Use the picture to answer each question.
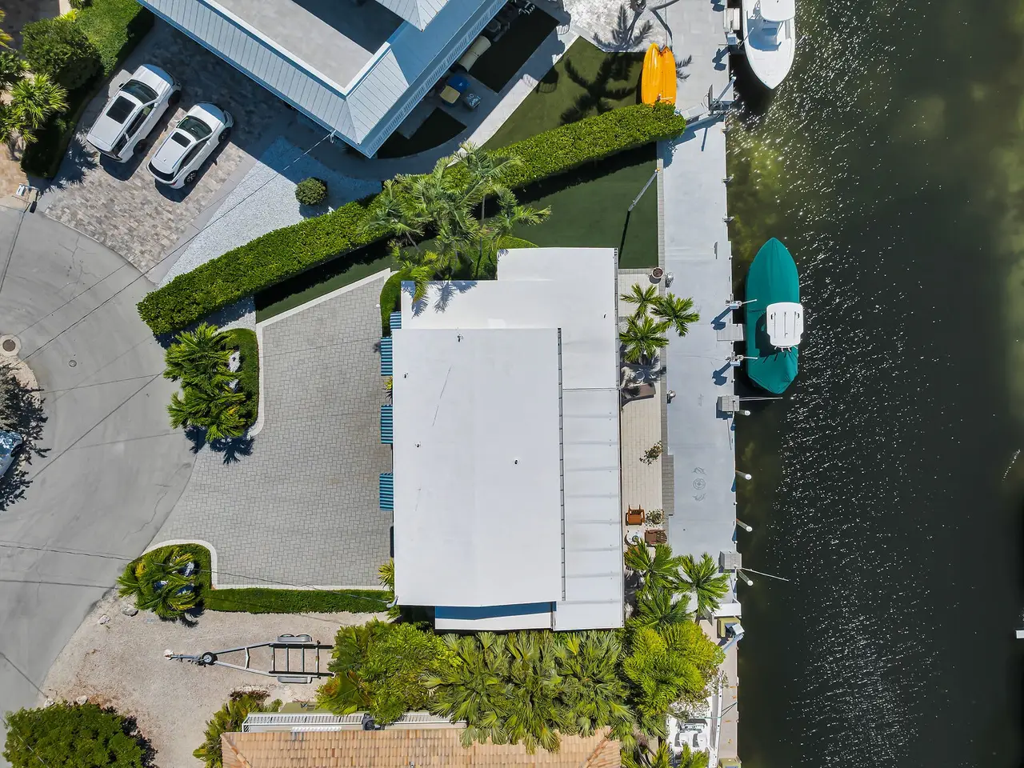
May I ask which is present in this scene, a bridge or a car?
car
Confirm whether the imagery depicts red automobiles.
No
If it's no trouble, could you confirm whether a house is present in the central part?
Yes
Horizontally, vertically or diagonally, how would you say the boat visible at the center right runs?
vertically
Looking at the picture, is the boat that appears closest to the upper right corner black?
No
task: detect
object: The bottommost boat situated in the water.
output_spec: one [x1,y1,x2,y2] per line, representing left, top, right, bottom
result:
[744,238,803,393]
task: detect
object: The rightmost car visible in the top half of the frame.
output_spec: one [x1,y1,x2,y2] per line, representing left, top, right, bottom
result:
[149,101,233,194]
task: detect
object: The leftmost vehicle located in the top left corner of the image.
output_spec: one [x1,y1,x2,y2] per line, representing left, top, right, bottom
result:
[92,61,183,167]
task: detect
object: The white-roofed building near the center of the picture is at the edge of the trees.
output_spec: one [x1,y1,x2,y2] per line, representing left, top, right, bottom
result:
[380,248,627,631]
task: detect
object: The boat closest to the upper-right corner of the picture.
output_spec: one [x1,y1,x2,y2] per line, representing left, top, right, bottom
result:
[741,0,801,87]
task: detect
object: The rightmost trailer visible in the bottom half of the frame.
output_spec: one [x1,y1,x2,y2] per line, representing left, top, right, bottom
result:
[165,634,335,689]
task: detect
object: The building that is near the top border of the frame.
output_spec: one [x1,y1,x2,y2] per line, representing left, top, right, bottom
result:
[129,0,509,159]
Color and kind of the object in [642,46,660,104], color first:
orange boat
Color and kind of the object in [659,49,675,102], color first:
orange boat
